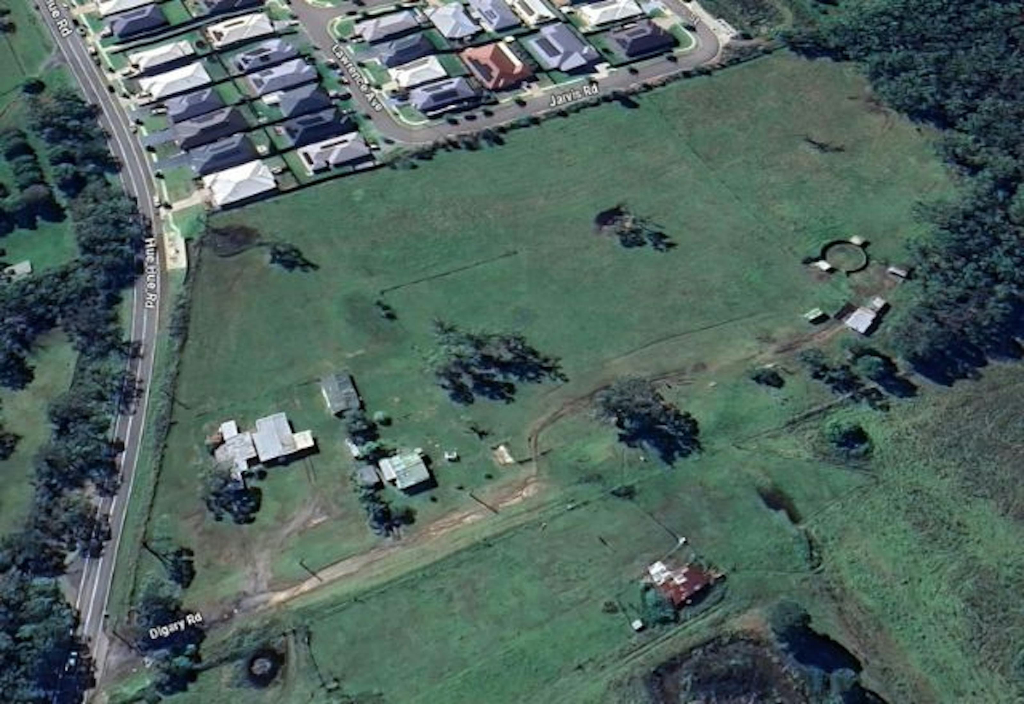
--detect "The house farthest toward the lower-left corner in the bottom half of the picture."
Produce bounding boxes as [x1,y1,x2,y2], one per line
[207,419,261,484]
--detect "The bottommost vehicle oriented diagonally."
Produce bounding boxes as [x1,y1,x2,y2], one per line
[343,438,362,459]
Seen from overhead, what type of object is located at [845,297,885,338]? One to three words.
barn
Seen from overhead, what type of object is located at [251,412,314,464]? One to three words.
shed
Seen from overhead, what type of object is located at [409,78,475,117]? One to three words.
house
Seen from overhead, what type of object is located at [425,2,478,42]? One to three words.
house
